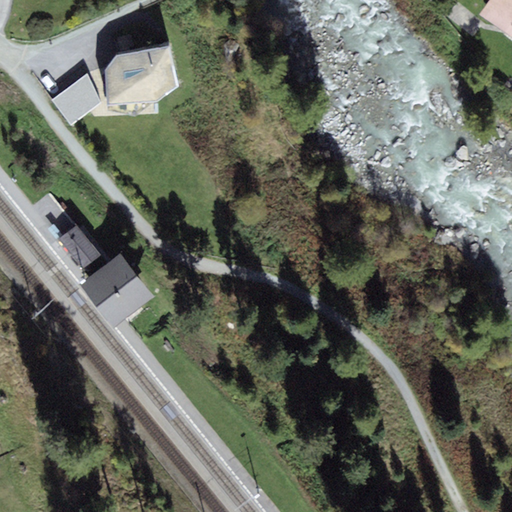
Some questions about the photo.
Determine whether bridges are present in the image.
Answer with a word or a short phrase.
No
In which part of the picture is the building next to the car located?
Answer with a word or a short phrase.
top left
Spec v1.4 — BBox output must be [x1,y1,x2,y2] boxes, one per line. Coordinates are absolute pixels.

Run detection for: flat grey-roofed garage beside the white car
[52,74,101,125]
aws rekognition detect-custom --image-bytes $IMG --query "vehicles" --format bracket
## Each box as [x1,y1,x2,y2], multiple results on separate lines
[40,72,58,94]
